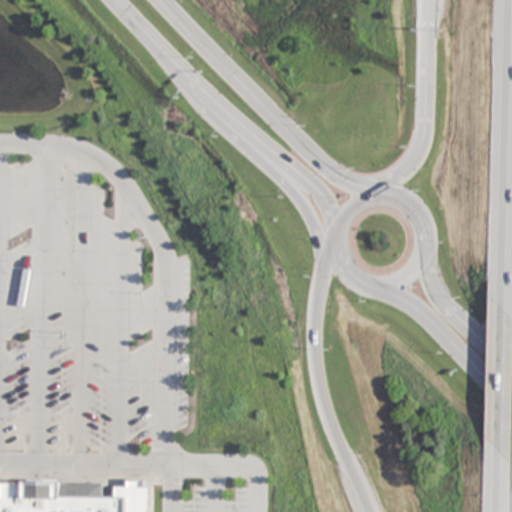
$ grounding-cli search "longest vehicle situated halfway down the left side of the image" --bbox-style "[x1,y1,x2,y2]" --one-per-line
[18,260,32,306]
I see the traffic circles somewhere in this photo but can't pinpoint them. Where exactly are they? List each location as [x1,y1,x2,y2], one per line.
[328,183,440,292]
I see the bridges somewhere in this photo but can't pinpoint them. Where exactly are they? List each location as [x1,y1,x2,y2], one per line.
[484,267,512,455]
